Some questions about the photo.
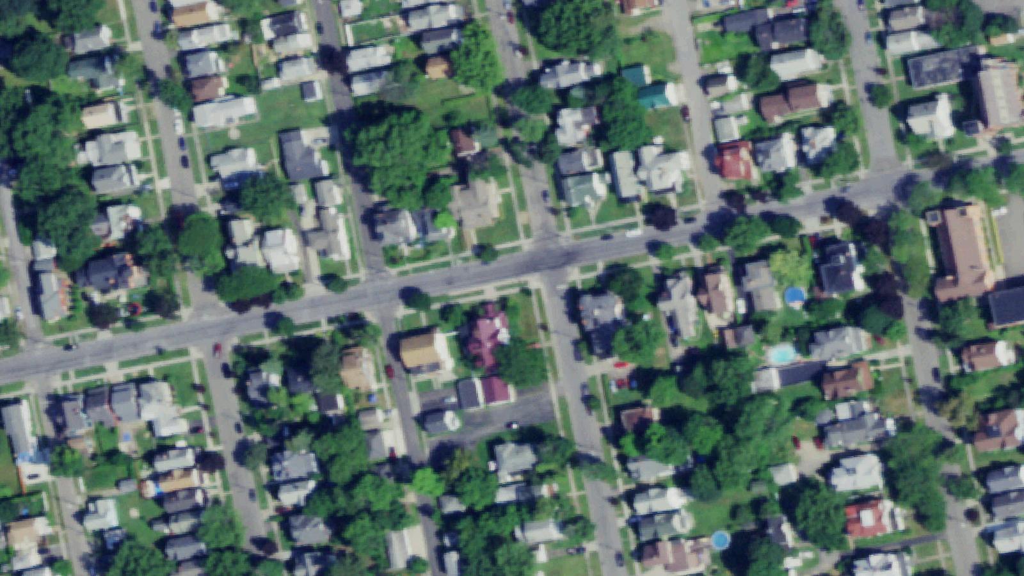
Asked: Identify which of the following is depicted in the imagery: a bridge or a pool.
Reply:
pool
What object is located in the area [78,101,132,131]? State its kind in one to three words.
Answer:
house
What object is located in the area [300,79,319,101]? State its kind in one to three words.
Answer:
shed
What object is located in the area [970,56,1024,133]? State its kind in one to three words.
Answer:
building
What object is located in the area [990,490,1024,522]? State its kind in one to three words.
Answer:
house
